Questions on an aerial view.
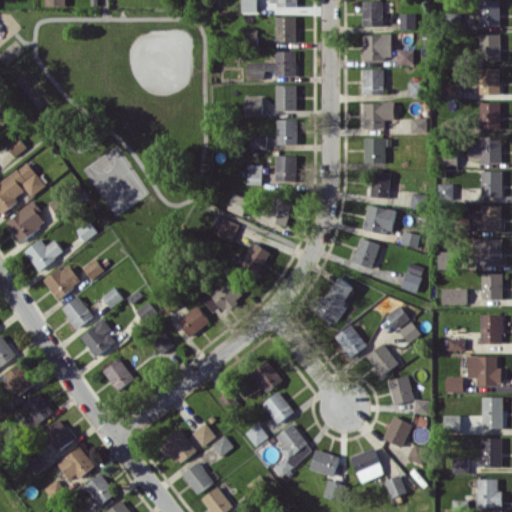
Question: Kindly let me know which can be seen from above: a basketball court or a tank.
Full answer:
There is a basketball court in the scene.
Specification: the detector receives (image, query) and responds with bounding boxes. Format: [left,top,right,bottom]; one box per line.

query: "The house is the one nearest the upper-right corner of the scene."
[482,3,501,27]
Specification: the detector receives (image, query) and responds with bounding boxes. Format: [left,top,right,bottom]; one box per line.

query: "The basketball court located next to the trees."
[84,149,149,216]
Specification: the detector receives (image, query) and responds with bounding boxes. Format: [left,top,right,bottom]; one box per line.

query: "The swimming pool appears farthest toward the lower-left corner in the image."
[25,486,39,500]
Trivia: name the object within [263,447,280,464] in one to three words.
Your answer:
swimming pool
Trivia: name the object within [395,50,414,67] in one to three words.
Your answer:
building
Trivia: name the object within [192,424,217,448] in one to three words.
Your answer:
building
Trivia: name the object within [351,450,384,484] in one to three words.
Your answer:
house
